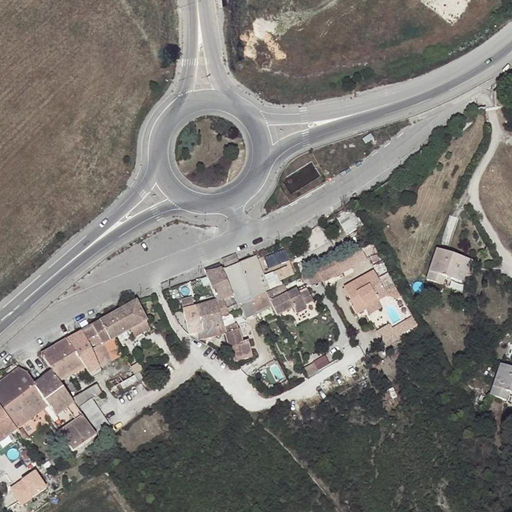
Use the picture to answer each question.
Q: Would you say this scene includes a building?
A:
Yes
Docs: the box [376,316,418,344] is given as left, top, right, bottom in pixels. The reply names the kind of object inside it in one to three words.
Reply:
building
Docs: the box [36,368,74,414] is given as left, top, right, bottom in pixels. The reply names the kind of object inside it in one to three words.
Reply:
house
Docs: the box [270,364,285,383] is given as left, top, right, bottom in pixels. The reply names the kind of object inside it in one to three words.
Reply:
swimming pool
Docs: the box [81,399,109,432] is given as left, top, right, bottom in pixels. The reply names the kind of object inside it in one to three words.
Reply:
shed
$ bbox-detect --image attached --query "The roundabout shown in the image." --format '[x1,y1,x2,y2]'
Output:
[149,91,272,214]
